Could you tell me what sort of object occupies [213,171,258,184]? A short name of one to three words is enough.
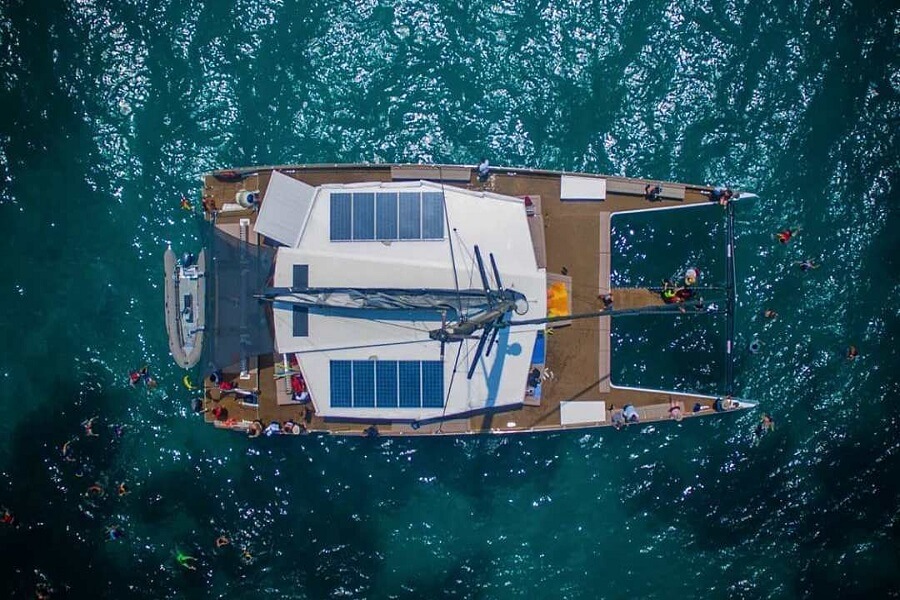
boat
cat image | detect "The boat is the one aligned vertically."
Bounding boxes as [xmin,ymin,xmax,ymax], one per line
[165,243,205,366]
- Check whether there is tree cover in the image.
No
